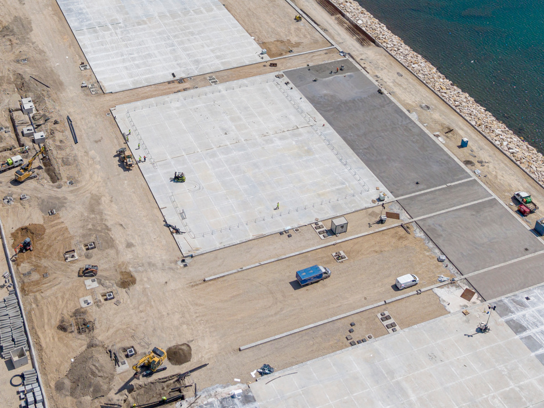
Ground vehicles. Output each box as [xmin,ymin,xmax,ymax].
[119,148,139,172]
[16,143,49,180]
[393,272,421,289]
[9,239,33,262]
[514,187,542,208]
[115,346,171,382]
[169,170,187,184]
[292,14,302,22]
[294,260,329,285]
[74,263,99,278]
[0,152,24,170]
